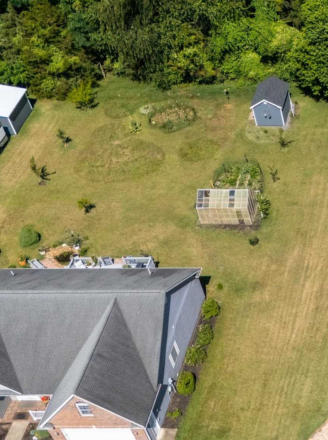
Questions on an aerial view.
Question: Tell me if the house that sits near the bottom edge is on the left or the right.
left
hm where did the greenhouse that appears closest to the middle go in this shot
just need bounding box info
[196,189,255,225]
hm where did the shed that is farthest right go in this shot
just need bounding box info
[250,75,291,126]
